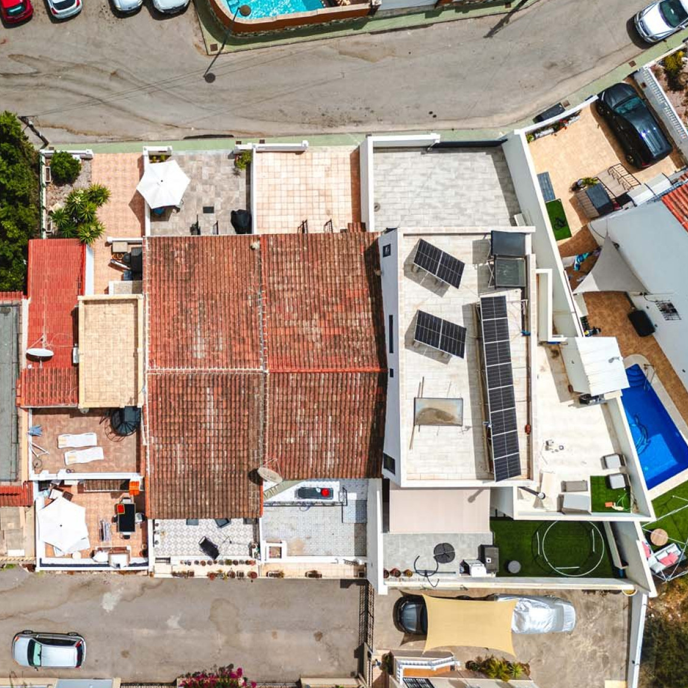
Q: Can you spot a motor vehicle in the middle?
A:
No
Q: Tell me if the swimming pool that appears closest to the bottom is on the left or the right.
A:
right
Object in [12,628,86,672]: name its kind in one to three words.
car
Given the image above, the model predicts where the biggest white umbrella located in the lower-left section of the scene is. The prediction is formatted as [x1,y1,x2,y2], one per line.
[37,496,87,554]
